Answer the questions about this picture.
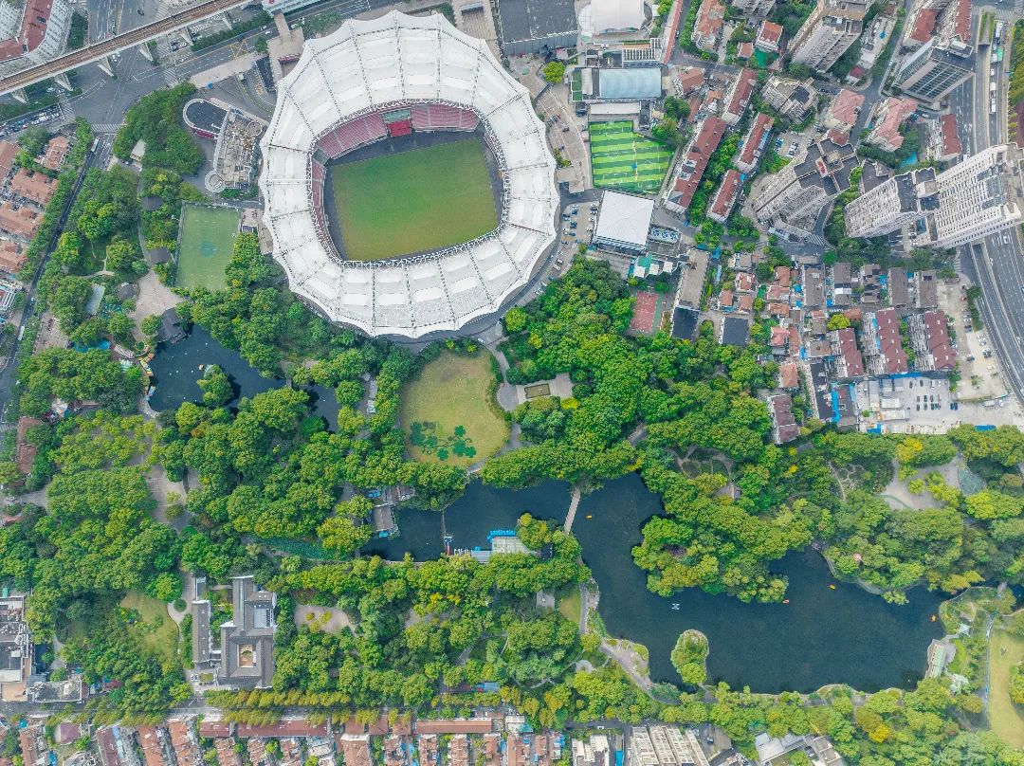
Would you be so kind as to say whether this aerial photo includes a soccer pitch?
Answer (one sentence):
Yes, there is a soccer pitch in the image.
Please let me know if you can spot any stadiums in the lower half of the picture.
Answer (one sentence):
No, looking in the lower half of the picture, there is no stadium.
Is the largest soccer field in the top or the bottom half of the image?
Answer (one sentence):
The largest soccer field is in the top half of the image.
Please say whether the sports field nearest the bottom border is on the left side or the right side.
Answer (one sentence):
The sports field nearest the bottom border sits on the left side.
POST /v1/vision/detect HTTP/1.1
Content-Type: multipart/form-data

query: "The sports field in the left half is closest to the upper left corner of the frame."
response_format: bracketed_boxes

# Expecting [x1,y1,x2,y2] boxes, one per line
[174,203,240,291]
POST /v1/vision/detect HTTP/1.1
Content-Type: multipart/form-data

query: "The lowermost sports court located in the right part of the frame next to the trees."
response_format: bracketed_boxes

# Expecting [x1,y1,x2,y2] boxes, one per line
[630,291,663,334]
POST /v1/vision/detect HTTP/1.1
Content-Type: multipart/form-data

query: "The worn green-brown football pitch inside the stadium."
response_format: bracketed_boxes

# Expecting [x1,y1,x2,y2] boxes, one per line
[331,137,497,260]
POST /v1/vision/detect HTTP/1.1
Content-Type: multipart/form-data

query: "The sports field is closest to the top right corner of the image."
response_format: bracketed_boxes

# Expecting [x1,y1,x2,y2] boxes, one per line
[589,118,678,194]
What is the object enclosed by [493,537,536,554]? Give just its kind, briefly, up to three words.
pier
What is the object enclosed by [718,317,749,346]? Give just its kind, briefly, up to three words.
house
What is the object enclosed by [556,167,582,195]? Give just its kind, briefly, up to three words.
shed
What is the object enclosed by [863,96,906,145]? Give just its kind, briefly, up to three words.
building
